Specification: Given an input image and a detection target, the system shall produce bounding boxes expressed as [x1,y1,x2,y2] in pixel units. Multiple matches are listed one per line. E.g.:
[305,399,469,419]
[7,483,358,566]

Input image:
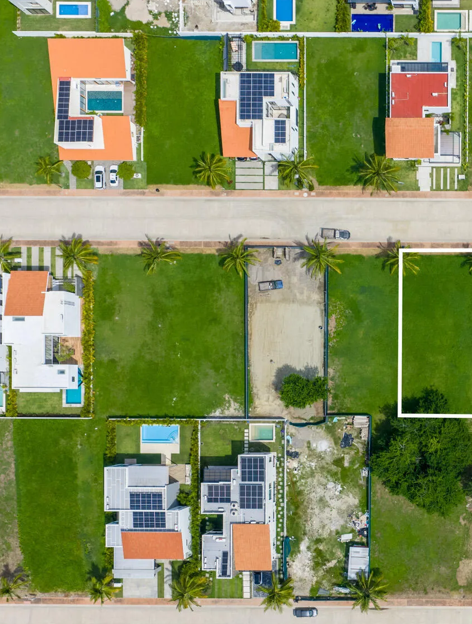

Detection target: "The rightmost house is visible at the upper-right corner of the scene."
[432,0,461,15]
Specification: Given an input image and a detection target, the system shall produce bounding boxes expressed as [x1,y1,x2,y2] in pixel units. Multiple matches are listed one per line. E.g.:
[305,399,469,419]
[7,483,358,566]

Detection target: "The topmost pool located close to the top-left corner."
[56,1,92,19]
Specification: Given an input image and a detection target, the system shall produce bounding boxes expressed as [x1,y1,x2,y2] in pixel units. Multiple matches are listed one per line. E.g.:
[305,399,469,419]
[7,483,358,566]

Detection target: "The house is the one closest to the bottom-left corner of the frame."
[104,464,192,577]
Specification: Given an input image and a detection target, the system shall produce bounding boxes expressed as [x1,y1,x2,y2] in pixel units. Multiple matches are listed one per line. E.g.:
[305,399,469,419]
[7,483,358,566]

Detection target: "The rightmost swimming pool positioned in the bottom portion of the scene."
[249,423,276,443]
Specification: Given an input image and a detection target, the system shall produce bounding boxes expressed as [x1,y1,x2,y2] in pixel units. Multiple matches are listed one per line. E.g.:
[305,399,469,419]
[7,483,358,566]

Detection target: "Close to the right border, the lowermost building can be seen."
[384,63,461,167]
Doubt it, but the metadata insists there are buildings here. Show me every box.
[432,0,461,15]
[201,452,277,578]
[9,0,52,15]
[218,0,259,20]
[3,271,86,393]
[347,544,370,579]
[48,39,141,164]
[384,63,461,167]
[104,464,192,577]
[219,72,301,166]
